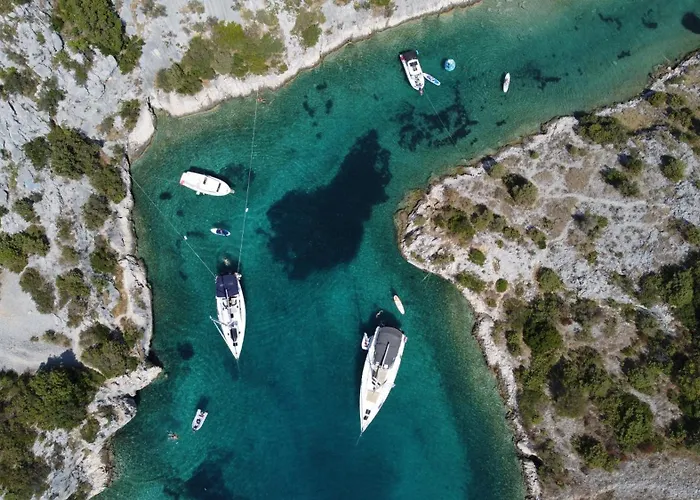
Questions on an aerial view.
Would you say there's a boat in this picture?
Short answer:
Yes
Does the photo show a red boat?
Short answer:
No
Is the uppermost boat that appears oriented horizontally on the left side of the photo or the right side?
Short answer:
left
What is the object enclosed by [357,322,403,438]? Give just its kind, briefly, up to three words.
boat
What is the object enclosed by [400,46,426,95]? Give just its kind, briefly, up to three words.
boat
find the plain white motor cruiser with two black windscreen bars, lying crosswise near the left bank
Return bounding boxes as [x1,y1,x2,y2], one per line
[177,171,237,198]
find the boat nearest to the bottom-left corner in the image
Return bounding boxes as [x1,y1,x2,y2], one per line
[191,406,208,431]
